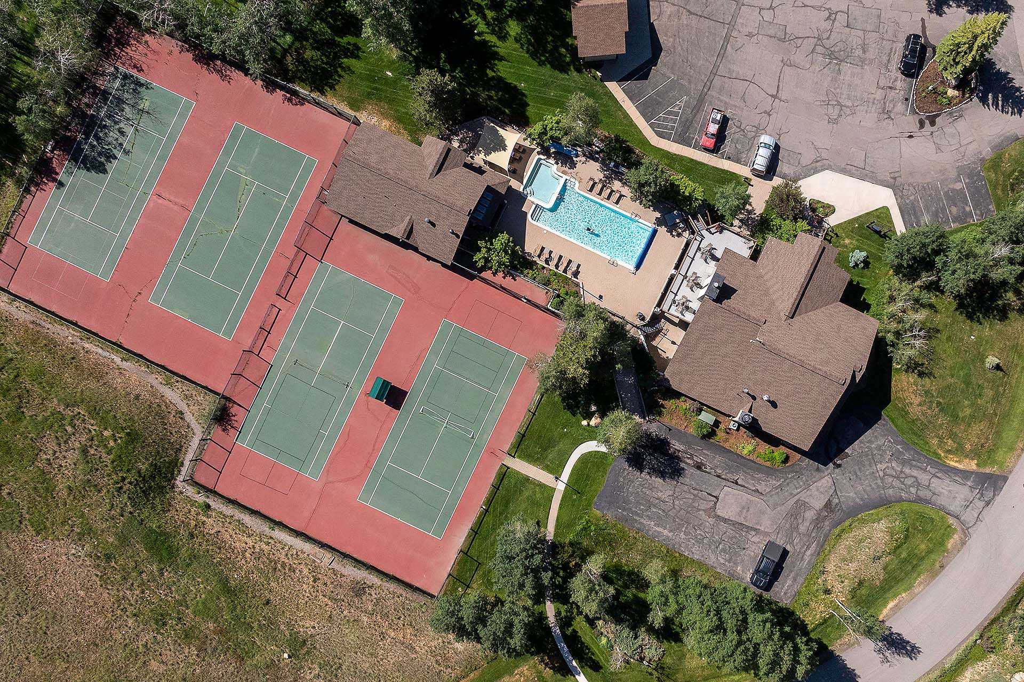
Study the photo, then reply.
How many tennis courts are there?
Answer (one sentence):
My tally gives 4 tennis courts in this view.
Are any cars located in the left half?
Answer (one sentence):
No, I see no car in the left half.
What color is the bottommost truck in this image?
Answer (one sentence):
In this view, the bottommost truck is black.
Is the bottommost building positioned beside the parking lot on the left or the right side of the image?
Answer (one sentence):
The bottommost building positioned beside the parking lot is on the right side of the image.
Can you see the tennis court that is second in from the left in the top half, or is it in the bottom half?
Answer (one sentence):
The top half of the photo is where the tennis court that is second in from the left is.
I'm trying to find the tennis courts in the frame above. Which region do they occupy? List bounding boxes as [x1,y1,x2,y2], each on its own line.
[234,260,405,495]
[27,64,196,300]
[357,300,528,541]
[148,122,318,341]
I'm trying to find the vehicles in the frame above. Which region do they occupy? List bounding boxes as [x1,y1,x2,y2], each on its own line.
[900,29,927,76]
[754,540,787,594]
[753,132,778,176]
[701,103,729,150]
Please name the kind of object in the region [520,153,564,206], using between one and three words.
swimming pool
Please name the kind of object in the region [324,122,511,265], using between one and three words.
building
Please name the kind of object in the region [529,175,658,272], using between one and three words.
swimming pool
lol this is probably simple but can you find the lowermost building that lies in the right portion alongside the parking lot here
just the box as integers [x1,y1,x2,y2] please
[664,232,879,451]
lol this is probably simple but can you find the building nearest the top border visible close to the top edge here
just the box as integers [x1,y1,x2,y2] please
[572,0,628,63]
